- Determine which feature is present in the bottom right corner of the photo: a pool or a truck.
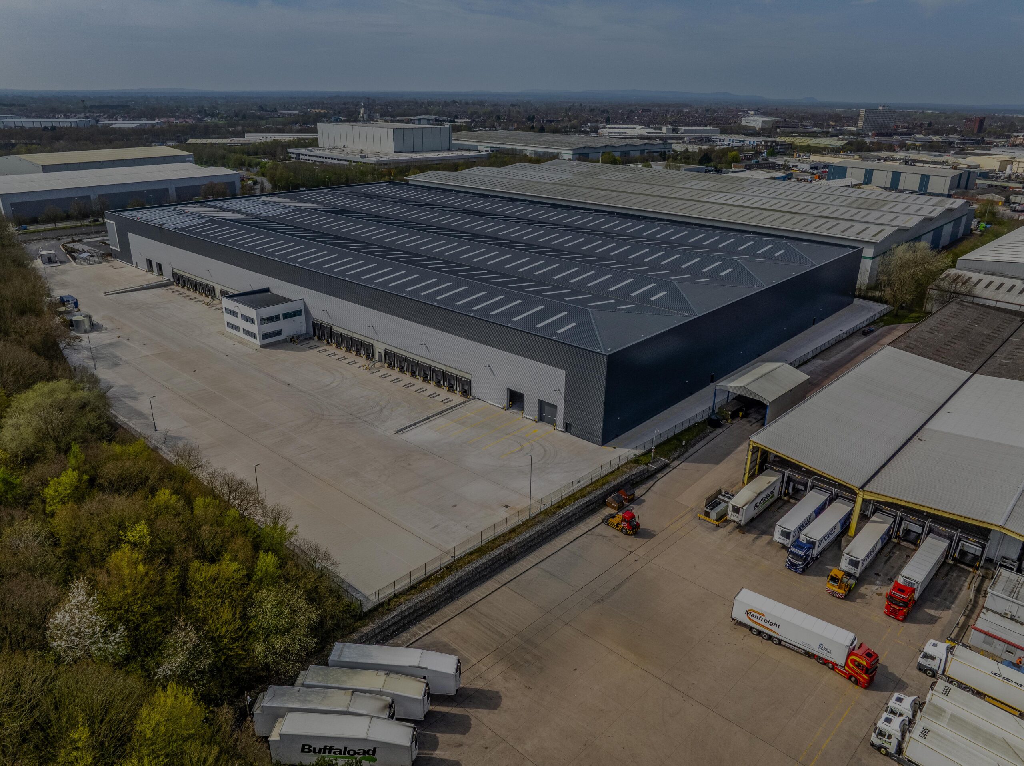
truck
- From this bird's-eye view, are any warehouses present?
Yes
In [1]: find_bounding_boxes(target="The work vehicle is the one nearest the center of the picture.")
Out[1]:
[601,510,636,534]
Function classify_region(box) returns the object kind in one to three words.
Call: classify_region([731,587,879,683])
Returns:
truck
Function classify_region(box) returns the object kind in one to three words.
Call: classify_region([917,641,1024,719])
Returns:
truck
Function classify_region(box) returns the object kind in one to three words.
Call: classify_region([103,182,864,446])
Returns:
warehouse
